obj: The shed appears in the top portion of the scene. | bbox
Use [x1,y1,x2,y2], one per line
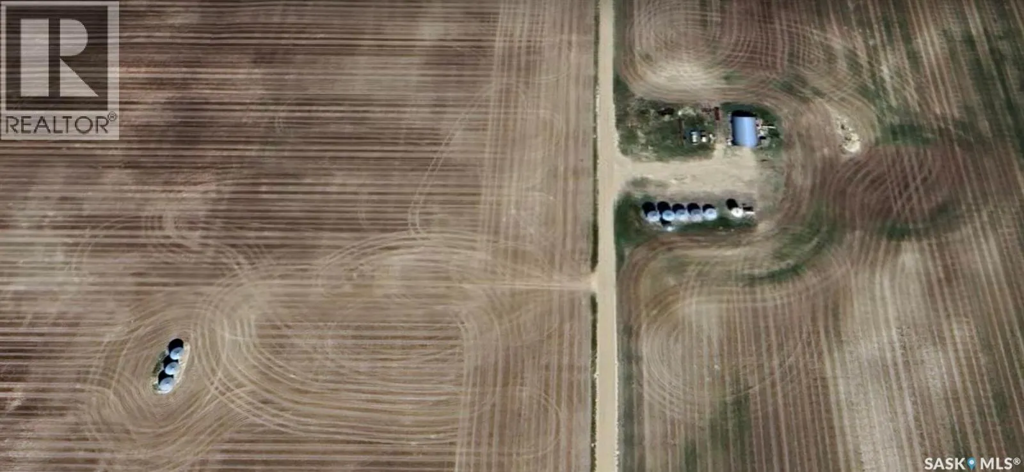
[731,116,758,149]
